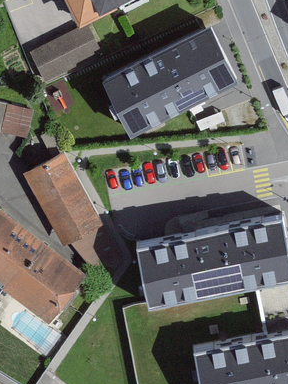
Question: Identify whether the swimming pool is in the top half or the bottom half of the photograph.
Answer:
bottom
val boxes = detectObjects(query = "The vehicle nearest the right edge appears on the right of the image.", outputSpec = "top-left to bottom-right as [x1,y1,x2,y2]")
[269,84,288,119]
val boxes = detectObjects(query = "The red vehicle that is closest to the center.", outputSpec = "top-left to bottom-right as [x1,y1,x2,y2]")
[143,162,155,183]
